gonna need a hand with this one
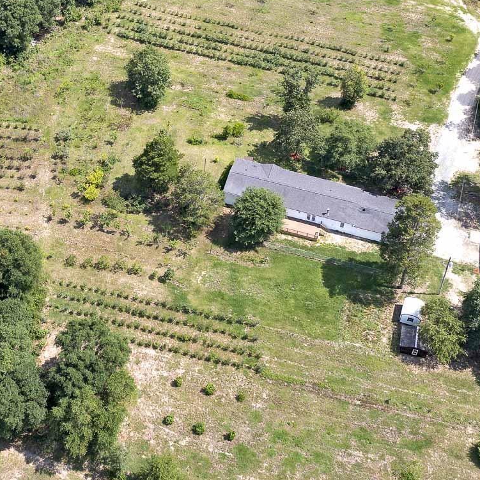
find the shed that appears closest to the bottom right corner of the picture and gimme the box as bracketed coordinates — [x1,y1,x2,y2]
[399,325,428,357]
